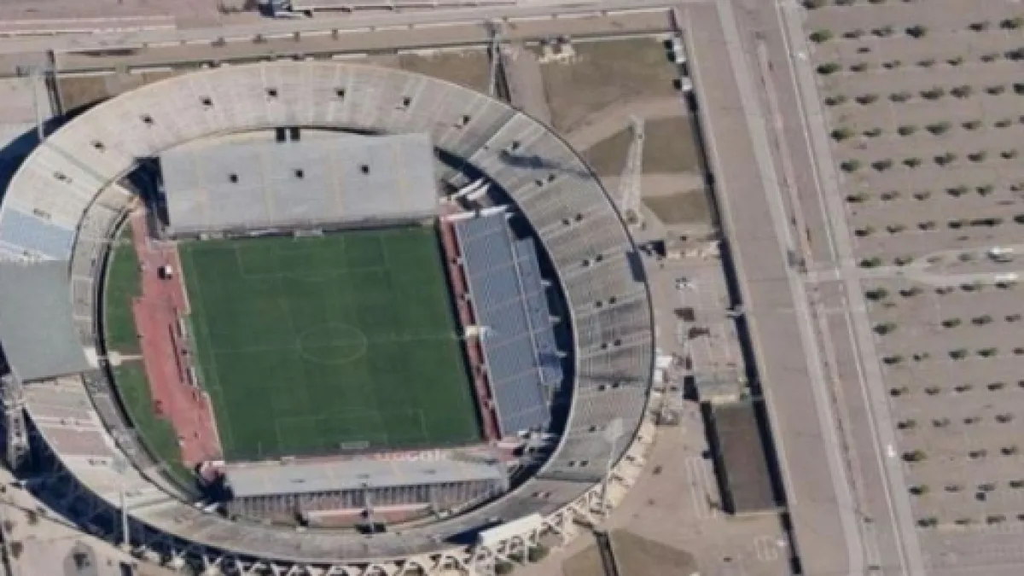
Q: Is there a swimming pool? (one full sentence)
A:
No, this view has no swimming pool in it.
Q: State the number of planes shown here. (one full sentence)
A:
No planes are visible.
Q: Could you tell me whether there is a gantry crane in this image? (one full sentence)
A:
No, no gantry crane is visible in the view.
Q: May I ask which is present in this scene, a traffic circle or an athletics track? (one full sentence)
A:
There is an athletics track in the scene.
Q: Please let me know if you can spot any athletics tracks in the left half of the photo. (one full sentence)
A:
Yes, I can see an athletics track in the left half of the photo.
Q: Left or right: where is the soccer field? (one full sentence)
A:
The soccer field sits on the left side.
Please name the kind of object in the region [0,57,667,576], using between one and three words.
stadium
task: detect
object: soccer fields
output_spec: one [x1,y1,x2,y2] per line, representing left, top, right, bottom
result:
[179,226,489,461]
